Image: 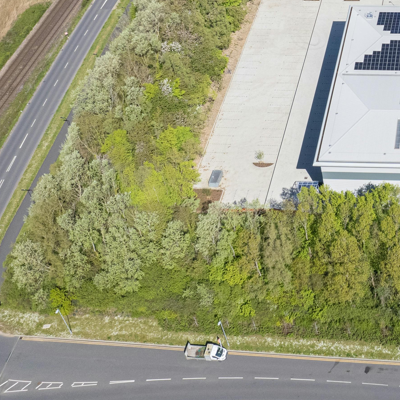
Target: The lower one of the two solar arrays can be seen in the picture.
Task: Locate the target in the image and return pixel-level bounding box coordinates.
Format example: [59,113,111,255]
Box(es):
[354,43,400,73]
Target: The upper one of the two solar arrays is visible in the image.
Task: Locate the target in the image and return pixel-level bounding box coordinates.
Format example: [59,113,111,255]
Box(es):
[378,14,400,32]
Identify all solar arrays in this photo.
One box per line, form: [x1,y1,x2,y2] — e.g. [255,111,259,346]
[354,43,400,73]
[378,14,400,32]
